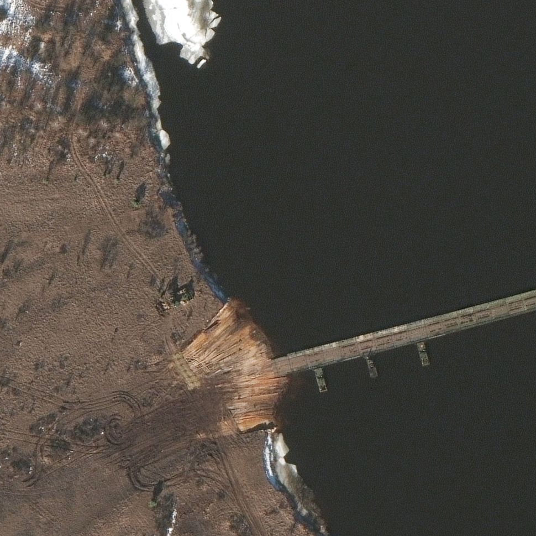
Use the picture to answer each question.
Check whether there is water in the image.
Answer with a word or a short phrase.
Yes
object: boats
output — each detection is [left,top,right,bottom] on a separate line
[418,341,431,366]
[367,356,378,378]
[314,368,327,393]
